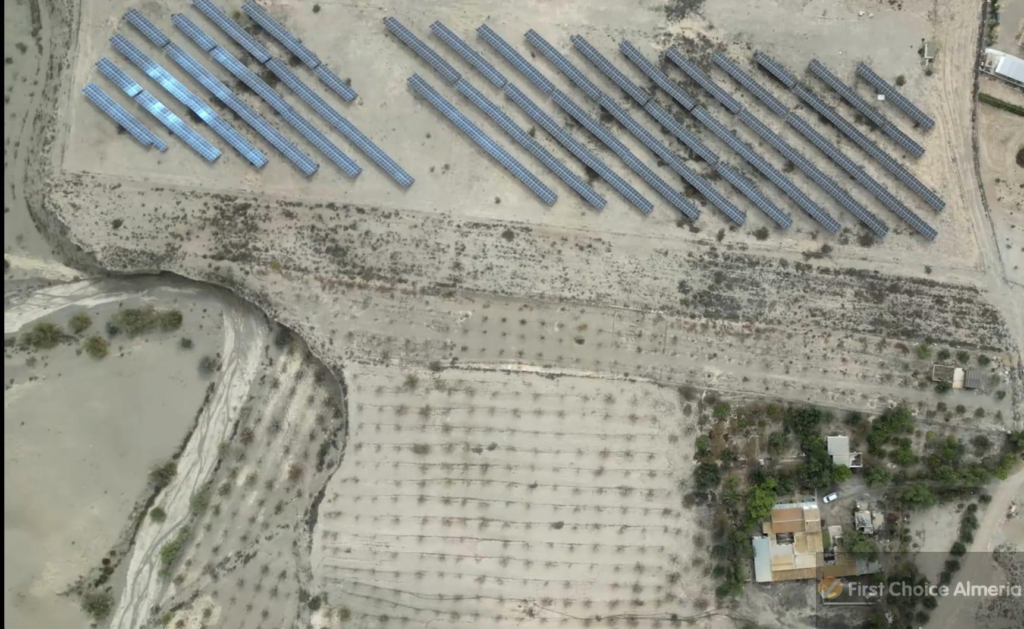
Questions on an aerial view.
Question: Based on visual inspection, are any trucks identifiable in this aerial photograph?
No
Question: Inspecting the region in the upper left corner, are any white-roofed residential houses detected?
No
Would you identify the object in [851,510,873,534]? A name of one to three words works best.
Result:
shed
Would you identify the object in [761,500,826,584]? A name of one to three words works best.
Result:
house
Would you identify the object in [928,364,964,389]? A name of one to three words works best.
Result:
shed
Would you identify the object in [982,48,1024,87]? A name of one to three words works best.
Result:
barn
